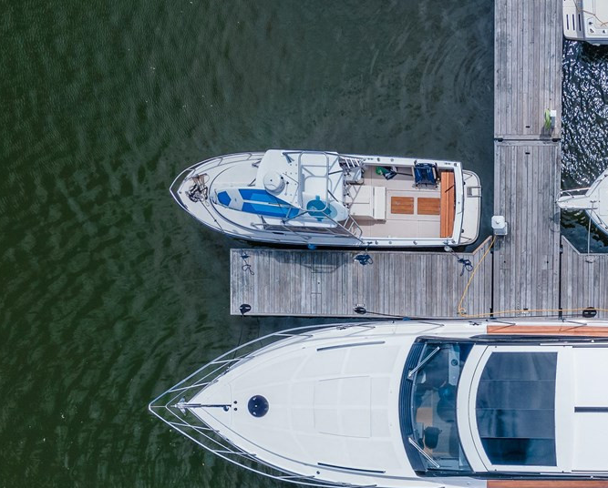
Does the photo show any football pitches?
No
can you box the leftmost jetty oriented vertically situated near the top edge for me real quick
[495,0,561,141]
